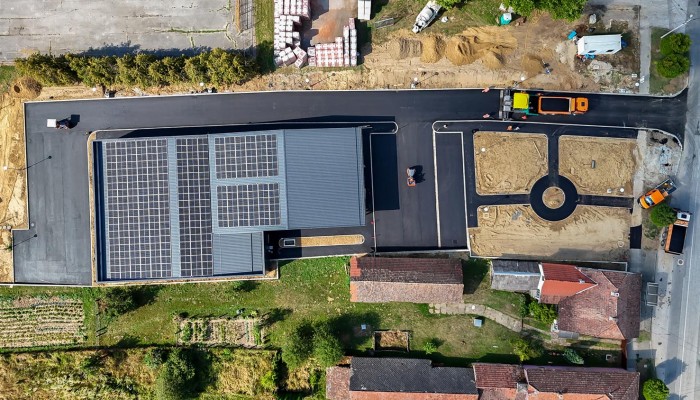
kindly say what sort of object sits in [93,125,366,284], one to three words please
warehouse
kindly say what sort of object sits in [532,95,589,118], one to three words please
truck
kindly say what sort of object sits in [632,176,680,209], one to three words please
truck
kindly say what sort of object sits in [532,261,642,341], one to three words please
house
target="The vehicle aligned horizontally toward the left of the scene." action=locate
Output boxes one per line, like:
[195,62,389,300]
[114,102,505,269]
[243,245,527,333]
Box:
[45,118,72,131]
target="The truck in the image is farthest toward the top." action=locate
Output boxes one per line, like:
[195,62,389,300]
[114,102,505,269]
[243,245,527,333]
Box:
[409,0,441,34]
